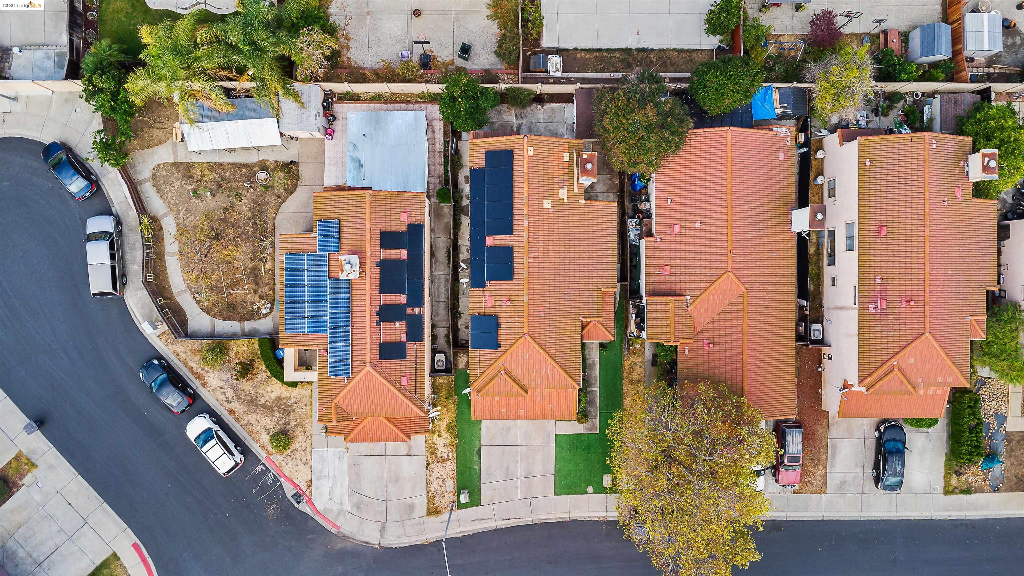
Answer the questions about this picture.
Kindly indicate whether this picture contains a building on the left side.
Yes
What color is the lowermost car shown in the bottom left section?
white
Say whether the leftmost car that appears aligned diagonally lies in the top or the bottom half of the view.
top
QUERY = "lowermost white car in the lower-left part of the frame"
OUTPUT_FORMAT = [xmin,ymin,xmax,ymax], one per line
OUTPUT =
[189,410,249,477]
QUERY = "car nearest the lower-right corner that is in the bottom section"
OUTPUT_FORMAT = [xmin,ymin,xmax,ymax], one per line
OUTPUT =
[871,418,911,492]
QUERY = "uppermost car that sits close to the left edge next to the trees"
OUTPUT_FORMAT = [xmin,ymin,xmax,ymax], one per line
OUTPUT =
[46,140,102,206]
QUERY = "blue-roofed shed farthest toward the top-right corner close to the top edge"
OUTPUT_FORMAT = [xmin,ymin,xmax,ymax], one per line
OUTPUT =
[903,21,953,66]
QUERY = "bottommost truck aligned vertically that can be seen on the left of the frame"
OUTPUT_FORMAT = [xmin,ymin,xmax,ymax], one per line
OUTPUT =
[86,215,129,298]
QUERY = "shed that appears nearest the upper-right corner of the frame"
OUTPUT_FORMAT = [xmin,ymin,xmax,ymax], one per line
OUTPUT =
[948,13,1003,60]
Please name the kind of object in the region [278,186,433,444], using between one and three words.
house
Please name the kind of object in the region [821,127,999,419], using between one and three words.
house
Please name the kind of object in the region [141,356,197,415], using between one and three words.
car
